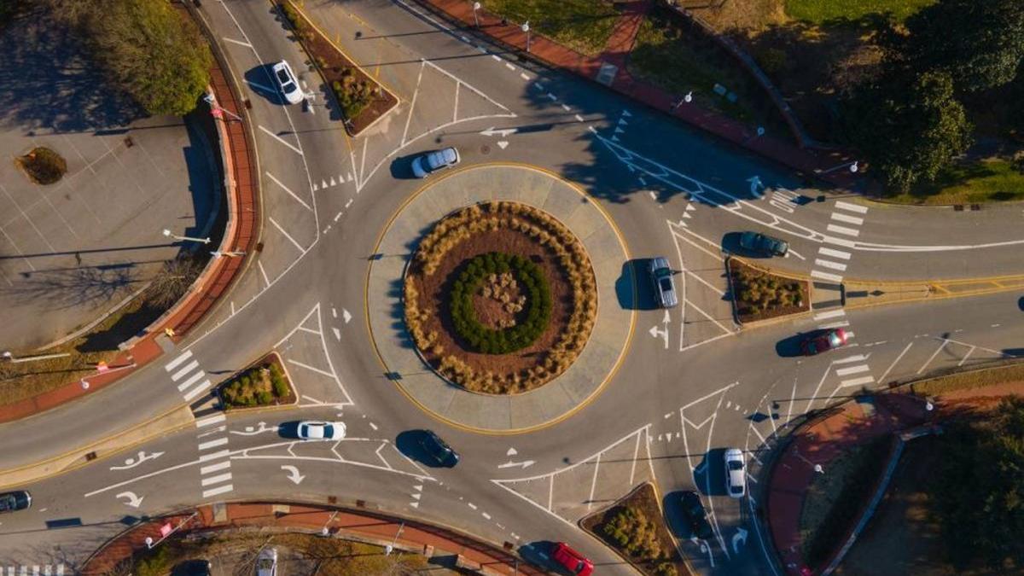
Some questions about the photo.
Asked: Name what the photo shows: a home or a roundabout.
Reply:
roundabout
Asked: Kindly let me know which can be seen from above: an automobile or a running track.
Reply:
automobile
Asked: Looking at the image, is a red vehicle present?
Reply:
Yes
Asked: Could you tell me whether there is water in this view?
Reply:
No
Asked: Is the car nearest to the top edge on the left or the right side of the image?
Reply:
left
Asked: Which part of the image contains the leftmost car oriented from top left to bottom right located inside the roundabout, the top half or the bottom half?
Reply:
bottom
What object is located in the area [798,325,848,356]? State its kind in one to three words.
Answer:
car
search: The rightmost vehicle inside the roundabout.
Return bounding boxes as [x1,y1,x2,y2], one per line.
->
[648,256,680,310]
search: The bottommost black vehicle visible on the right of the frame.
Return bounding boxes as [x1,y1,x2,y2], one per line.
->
[679,490,713,541]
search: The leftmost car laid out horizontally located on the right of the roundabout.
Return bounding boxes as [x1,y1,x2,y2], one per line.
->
[738,232,790,259]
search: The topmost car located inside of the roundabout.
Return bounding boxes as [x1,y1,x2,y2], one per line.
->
[410,146,463,178]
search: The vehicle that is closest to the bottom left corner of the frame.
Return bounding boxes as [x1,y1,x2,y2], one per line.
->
[0,487,38,512]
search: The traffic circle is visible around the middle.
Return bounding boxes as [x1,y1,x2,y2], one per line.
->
[320,118,682,479]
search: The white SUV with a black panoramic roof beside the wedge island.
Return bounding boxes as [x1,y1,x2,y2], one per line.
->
[270,57,307,108]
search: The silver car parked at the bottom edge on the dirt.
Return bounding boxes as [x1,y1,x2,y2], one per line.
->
[254,547,278,576]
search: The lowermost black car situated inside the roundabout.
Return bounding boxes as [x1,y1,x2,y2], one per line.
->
[416,426,462,469]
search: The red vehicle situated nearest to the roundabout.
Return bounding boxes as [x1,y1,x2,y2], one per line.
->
[549,537,595,576]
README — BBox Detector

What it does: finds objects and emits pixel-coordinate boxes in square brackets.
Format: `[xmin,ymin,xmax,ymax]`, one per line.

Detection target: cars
[738,232,790,259]
[416,426,462,469]
[0,487,38,512]
[679,490,713,541]
[270,57,307,108]
[648,256,680,310]
[798,325,848,356]
[410,146,463,178]
[549,537,595,576]
[297,419,347,441]
[254,547,278,576]
[721,447,747,498]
